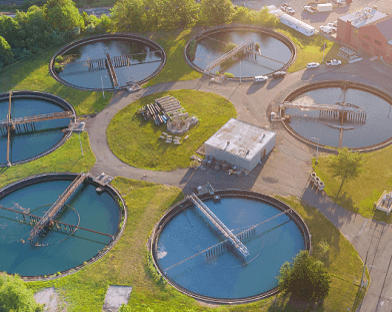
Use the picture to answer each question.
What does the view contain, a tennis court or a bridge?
bridge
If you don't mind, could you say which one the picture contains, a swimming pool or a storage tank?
storage tank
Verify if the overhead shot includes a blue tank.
Yes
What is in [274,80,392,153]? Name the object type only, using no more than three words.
storage tank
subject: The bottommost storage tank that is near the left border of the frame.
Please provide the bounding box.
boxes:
[0,169,126,281]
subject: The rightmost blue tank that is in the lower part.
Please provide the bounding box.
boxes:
[151,183,310,305]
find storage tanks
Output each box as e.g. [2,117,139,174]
[151,183,310,305]
[274,80,392,153]
[0,91,82,168]
[185,25,296,82]
[50,33,165,92]
[0,169,126,281]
